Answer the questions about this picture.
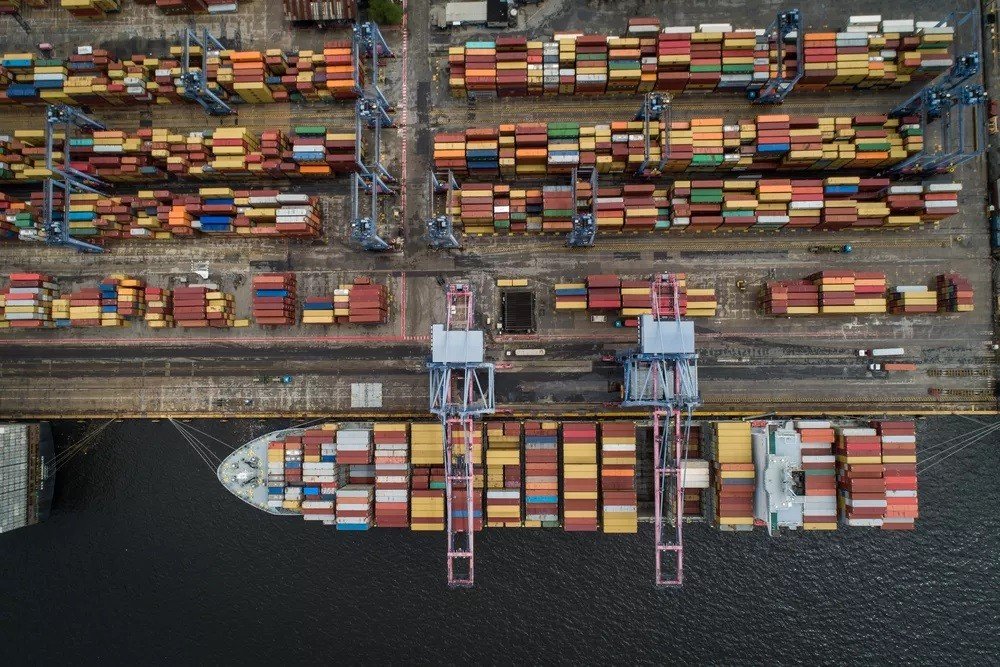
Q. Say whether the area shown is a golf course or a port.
port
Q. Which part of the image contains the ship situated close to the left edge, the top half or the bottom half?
bottom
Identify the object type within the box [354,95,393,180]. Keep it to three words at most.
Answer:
container crane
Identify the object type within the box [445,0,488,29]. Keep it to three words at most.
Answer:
building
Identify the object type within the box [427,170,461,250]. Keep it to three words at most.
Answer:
container crane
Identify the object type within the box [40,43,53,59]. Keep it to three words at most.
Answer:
vehicle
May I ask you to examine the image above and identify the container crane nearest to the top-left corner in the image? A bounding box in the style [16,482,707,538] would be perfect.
[45,101,105,185]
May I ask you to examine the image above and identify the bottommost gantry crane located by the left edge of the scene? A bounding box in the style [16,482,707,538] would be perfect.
[44,177,105,255]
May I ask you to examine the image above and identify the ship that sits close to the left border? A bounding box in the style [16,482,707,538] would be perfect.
[0,420,61,532]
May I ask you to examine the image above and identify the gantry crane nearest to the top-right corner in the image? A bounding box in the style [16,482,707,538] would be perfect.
[916,5,979,97]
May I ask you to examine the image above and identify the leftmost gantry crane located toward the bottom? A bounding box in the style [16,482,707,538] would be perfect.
[425,274,512,587]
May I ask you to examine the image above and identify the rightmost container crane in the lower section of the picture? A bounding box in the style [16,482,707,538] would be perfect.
[604,271,705,587]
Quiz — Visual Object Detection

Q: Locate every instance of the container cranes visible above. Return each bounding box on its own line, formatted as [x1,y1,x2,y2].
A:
[44,177,105,255]
[427,170,461,250]
[425,274,512,587]
[45,101,105,185]
[352,171,390,251]
[758,7,804,101]
[889,83,949,171]
[354,95,393,180]
[183,23,233,111]
[632,89,670,176]
[916,5,979,97]
[353,18,391,108]
[566,168,601,248]
[925,82,986,171]
[604,271,705,587]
